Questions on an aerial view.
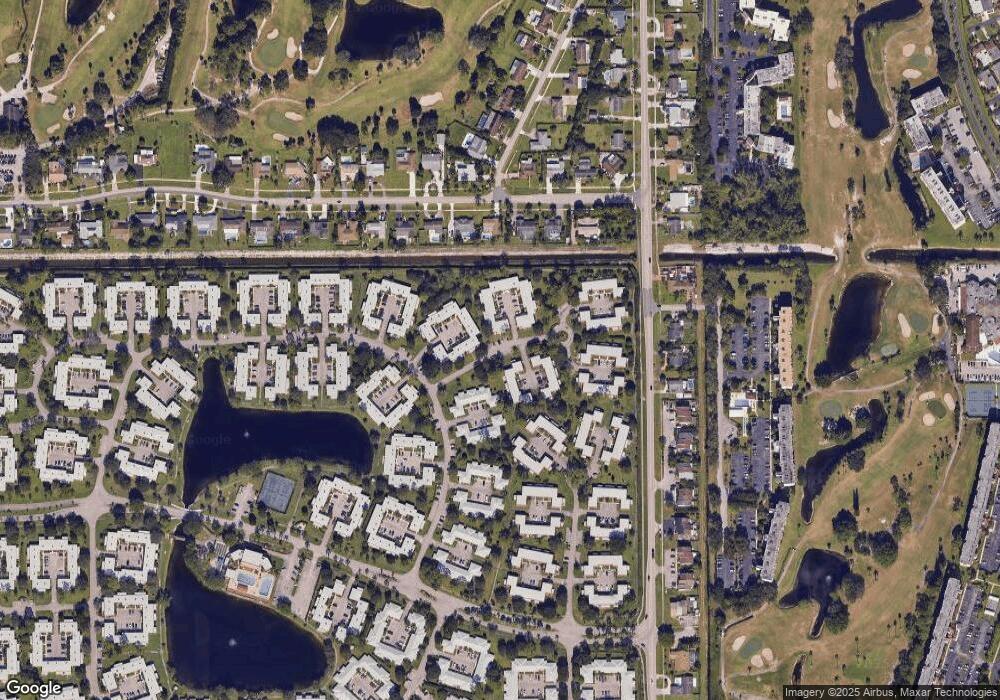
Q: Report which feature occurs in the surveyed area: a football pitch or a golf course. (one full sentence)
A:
It is a golf course that can be seen here.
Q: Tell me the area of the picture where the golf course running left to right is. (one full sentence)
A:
You can find the golf course running left to right in the top left area of the picture.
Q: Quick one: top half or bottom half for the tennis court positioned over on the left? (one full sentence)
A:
You can find the tennis court positioned over on the left in the bottom half.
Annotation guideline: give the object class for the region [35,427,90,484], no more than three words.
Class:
building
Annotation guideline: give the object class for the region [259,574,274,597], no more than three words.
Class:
swimming pool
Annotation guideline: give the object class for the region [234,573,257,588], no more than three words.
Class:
swimming pool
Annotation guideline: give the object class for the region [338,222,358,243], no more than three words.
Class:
house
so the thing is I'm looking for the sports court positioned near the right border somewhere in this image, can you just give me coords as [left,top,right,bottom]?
[967,386,995,416]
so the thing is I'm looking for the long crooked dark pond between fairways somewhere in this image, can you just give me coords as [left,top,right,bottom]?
[802,398,887,522]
